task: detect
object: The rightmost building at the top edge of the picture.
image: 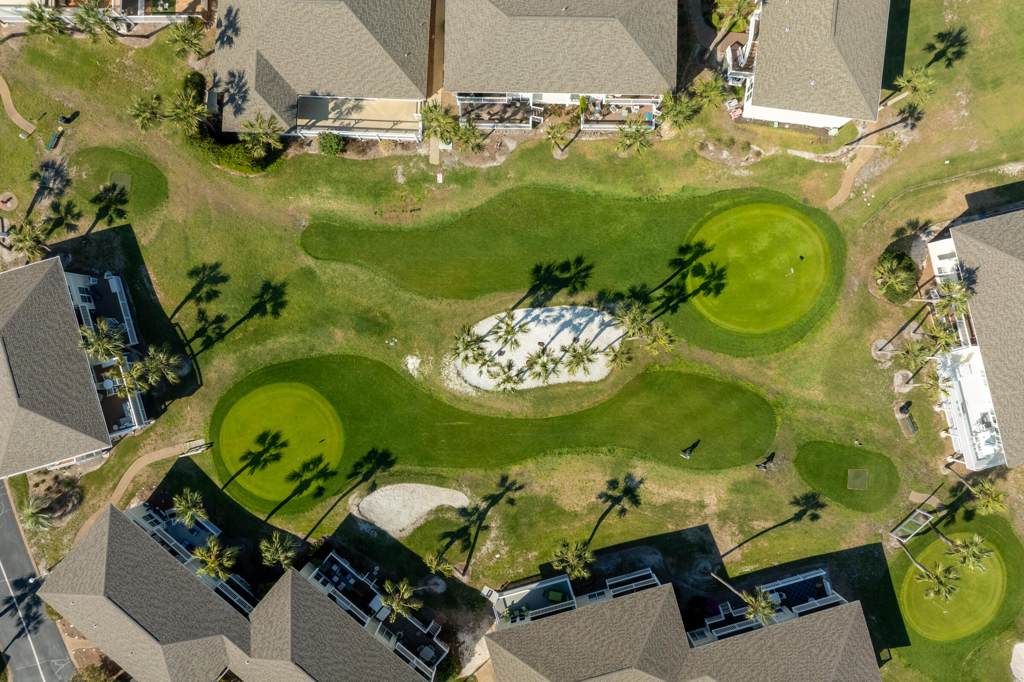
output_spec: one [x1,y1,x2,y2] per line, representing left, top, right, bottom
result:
[725,0,894,131]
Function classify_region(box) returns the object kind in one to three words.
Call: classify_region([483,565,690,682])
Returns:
house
